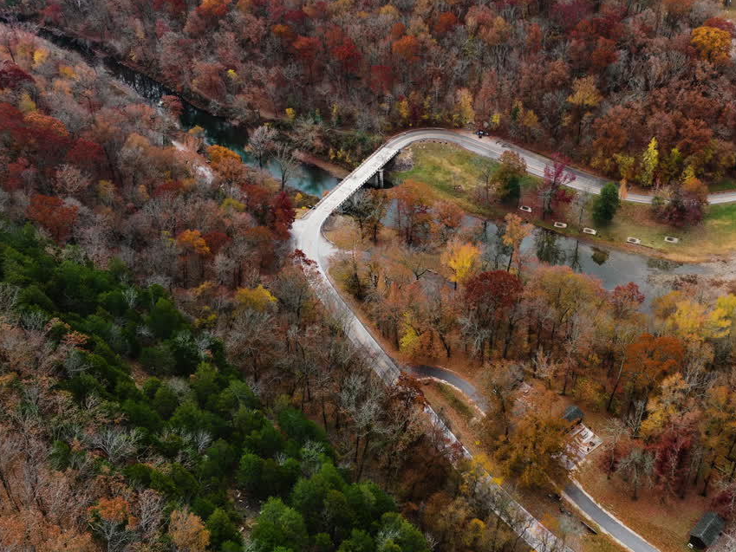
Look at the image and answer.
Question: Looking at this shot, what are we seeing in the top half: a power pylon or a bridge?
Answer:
bridge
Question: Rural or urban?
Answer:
rural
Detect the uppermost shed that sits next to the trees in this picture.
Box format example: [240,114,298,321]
[561,403,587,428]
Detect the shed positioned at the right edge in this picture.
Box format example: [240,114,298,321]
[689,511,728,551]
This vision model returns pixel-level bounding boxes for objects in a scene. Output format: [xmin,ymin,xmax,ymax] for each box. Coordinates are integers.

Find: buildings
[689,511,728,551]
[561,403,587,428]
